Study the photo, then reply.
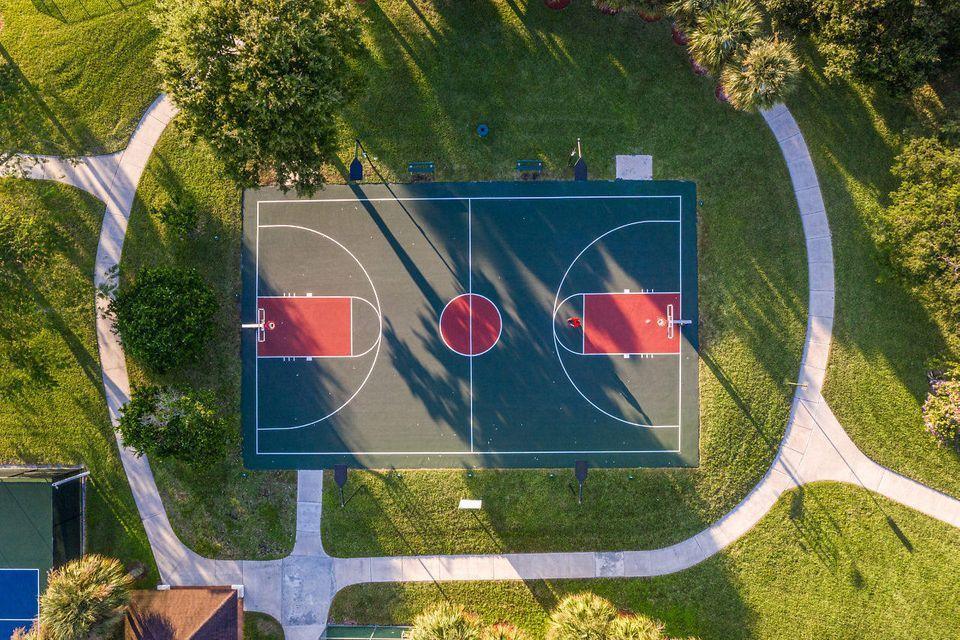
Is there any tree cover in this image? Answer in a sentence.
Yes, some tree cover is visible.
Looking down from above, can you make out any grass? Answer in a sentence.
Yes, grass shows up in the scene.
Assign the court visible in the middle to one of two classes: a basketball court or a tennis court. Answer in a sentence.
In the photo, the court visible in the middle shows up as a basketball court.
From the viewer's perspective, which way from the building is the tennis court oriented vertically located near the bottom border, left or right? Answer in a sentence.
Compared with the building, the tennis court oriented vertically located near the bottom border is located further to the left.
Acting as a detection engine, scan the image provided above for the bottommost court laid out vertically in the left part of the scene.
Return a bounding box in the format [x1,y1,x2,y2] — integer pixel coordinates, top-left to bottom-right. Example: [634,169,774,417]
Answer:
[0,469,81,640]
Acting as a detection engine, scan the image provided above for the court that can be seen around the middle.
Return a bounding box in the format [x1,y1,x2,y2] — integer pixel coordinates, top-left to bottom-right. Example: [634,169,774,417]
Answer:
[242,181,699,470]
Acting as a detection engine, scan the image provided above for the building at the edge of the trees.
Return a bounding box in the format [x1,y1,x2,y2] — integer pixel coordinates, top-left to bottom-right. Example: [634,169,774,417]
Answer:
[124,585,245,640]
